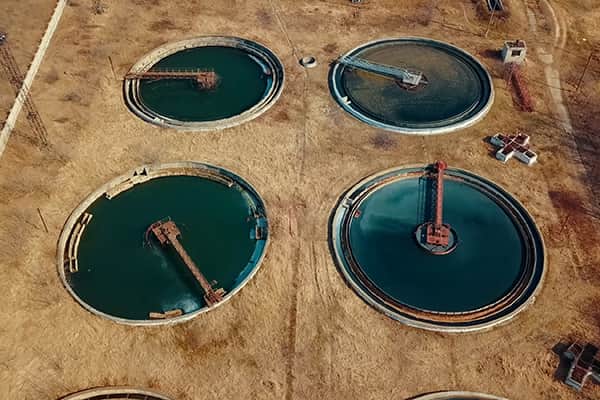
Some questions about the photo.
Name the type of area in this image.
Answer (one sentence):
The area seen from above is an industrial area.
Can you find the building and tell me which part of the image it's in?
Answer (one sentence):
Look in the top right portion of the view to spot the building.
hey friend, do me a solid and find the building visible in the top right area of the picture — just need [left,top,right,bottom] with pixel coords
[500,40,529,63]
